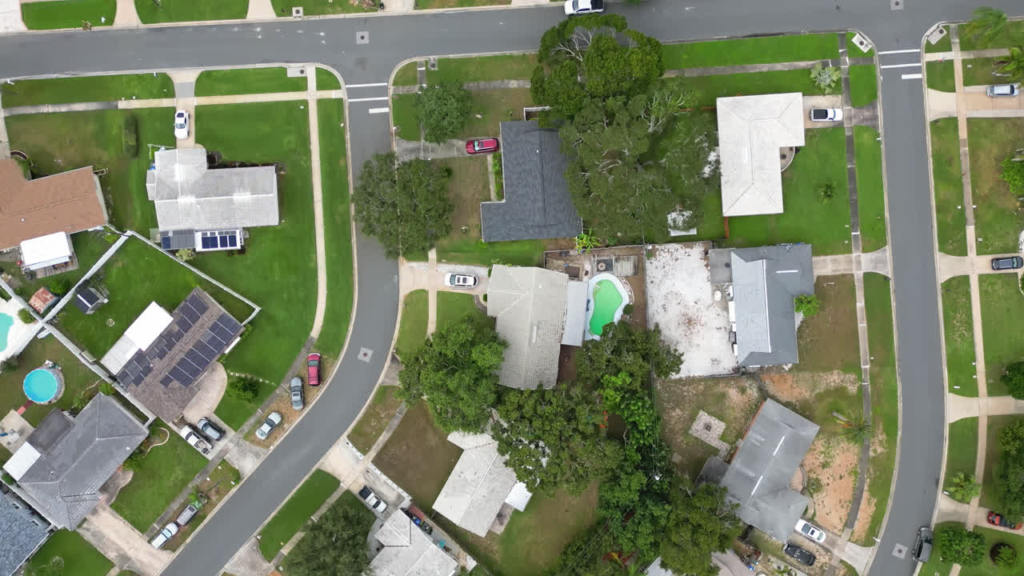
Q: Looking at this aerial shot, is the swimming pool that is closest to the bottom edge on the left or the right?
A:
left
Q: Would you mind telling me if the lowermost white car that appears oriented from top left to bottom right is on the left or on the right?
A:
right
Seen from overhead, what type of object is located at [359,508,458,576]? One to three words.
house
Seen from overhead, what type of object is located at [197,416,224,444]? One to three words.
car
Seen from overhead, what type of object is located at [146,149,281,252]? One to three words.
house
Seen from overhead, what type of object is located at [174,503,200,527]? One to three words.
vehicle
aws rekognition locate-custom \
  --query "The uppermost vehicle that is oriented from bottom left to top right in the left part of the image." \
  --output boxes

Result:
[255,411,282,440]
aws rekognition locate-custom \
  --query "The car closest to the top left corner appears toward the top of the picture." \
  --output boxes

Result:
[173,109,190,140]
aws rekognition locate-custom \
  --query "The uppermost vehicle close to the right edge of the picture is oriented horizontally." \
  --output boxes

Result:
[985,82,1018,98]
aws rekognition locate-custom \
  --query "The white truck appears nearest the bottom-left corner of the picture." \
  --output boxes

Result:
[147,521,180,552]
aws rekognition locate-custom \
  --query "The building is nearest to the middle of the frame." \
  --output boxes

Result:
[487,265,588,390]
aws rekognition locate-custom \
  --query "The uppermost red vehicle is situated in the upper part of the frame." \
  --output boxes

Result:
[466,137,499,153]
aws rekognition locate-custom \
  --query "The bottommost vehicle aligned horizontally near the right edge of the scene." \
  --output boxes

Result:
[984,511,1021,530]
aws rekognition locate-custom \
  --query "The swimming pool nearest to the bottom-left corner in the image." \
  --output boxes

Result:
[22,363,67,406]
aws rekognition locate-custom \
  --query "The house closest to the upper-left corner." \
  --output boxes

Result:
[0,158,113,270]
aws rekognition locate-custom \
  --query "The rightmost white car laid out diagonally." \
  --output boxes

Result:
[795,518,828,544]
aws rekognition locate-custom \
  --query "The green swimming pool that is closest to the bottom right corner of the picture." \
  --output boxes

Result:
[582,272,629,344]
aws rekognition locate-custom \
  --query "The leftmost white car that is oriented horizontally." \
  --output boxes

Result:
[446,273,478,288]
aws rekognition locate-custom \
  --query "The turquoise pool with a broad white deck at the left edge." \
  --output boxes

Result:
[0,297,41,360]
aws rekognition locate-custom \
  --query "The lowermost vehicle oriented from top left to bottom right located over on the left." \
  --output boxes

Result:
[356,483,388,516]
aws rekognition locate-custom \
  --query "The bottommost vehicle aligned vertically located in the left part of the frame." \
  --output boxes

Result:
[288,377,305,410]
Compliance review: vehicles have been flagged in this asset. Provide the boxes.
[305,353,321,386]
[781,541,817,568]
[985,82,1018,98]
[913,525,933,563]
[147,521,180,552]
[173,109,190,140]
[255,411,282,440]
[356,483,388,516]
[565,0,605,14]
[991,254,1024,269]
[795,518,828,544]
[197,416,224,444]
[984,511,1021,530]
[466,137,499,153]
[174,503,200,527]
[288,377,305,410]
[446,273,478,288]
[179,423,213,458]
[808,106,844,122]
